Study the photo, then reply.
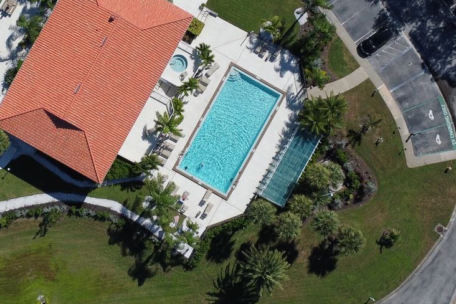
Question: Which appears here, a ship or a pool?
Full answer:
There is a pool in the scene.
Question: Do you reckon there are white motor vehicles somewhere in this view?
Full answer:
No, no white motor vehicle is visible in the view.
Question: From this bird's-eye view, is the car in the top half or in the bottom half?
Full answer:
It is in the top half that the car appears.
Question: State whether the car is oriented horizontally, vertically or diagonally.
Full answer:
In this picture, the car lies diagonally.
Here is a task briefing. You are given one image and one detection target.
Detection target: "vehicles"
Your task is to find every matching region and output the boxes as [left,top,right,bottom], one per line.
[359,26,398,57]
